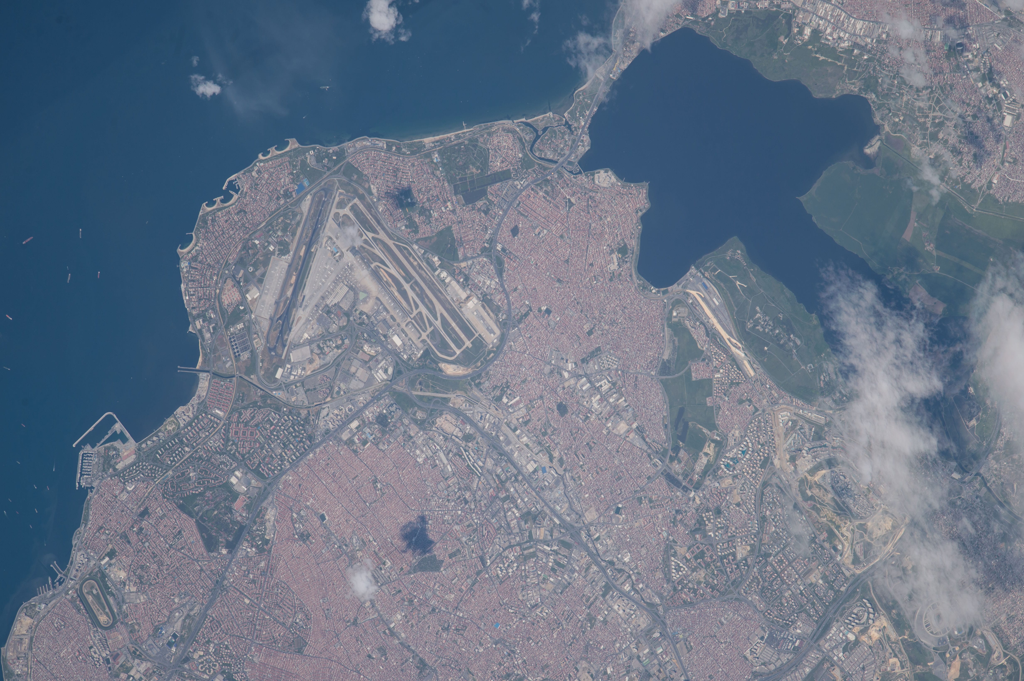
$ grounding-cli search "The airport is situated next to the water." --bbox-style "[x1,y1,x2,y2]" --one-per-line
[253,178,498,381]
